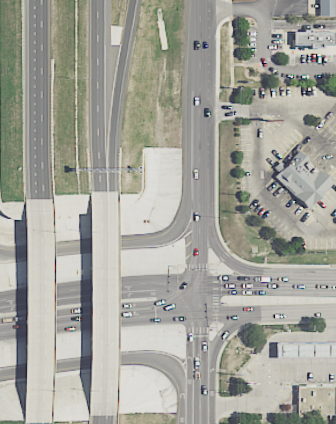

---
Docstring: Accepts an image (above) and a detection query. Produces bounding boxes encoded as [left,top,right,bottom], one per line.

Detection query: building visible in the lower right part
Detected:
[298,384,336,418]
